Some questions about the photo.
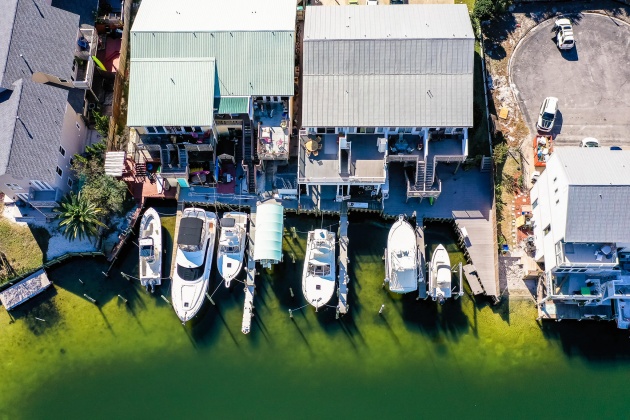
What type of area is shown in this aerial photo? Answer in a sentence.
This looks like a residential area.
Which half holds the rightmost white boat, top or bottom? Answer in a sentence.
The rightmost white boat is in the bottom half of the image.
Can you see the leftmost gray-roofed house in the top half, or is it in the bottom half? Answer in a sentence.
It is in the top half that the leftmost gray-roofed house appears.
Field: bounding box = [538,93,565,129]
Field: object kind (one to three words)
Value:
car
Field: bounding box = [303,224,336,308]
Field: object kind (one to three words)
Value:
boat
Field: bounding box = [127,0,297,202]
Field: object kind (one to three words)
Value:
house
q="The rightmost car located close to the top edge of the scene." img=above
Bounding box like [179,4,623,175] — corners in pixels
[552,14,578,47]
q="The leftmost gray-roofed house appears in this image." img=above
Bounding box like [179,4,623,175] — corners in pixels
[0,0,113,231]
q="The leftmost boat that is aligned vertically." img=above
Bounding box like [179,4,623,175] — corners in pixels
[140,212,164,291]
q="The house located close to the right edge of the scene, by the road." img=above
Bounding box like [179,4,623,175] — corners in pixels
[527,149,630,337]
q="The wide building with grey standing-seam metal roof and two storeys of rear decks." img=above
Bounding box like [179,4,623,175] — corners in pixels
[303,5,474,197]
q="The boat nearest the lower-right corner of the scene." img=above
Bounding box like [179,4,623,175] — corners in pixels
[431,248,451,299]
